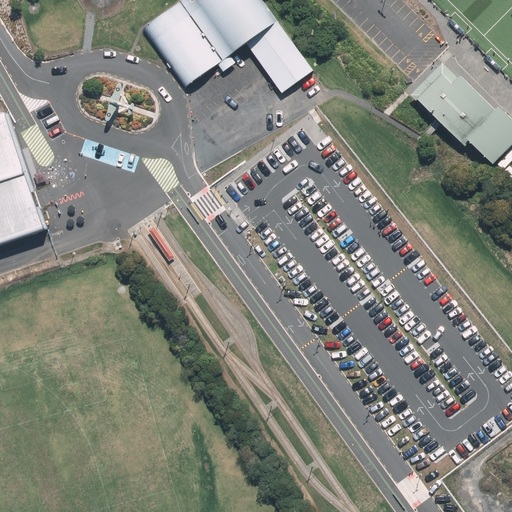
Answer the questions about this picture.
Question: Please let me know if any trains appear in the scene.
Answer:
Yes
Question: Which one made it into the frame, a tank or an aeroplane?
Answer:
aeroplane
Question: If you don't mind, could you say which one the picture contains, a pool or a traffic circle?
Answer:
traffic circle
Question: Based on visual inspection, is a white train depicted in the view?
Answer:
No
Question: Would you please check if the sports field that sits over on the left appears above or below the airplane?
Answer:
below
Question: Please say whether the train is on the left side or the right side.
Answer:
left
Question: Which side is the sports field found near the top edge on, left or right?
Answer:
right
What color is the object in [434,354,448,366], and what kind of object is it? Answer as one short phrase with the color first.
white vehicle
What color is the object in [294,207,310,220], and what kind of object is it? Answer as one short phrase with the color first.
gray vehicle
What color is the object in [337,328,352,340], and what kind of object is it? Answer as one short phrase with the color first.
blue vehicle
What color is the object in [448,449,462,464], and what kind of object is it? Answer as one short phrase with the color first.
white vehicle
